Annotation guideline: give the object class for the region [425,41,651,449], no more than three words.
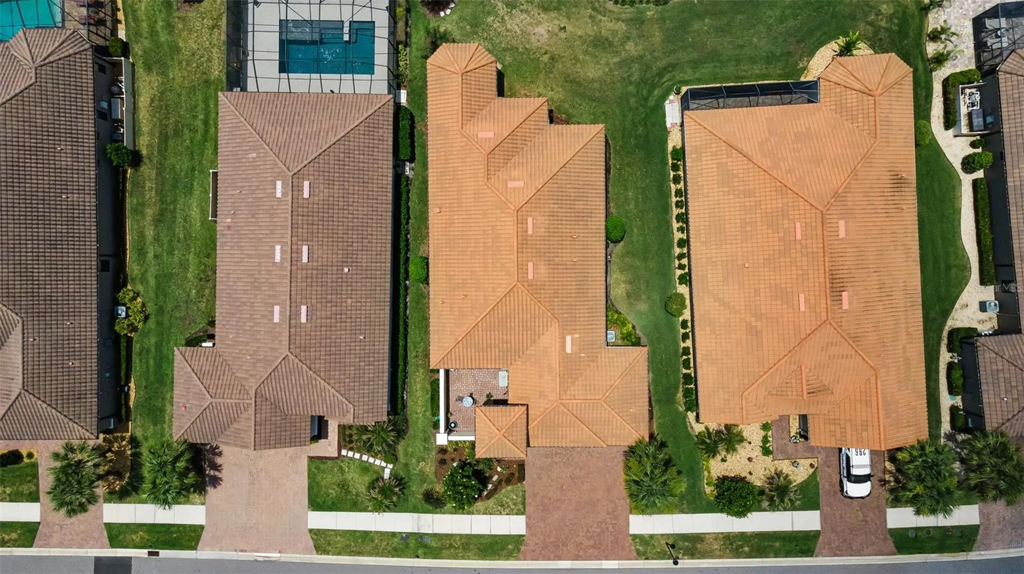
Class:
house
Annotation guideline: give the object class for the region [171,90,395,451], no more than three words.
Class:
house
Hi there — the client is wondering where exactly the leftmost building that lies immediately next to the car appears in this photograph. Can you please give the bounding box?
[682,51,929,451]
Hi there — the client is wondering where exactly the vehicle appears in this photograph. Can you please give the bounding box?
[836,448,874,501]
